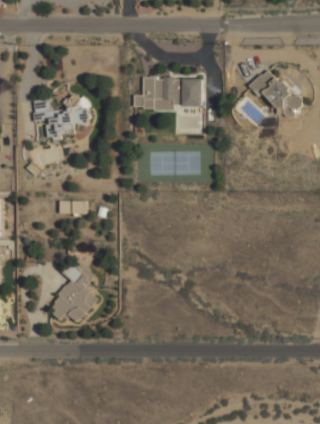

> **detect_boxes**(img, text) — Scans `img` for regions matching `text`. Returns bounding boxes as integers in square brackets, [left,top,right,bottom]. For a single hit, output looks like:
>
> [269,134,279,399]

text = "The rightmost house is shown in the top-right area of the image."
[248,70,302,118]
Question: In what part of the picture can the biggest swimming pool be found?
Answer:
top right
